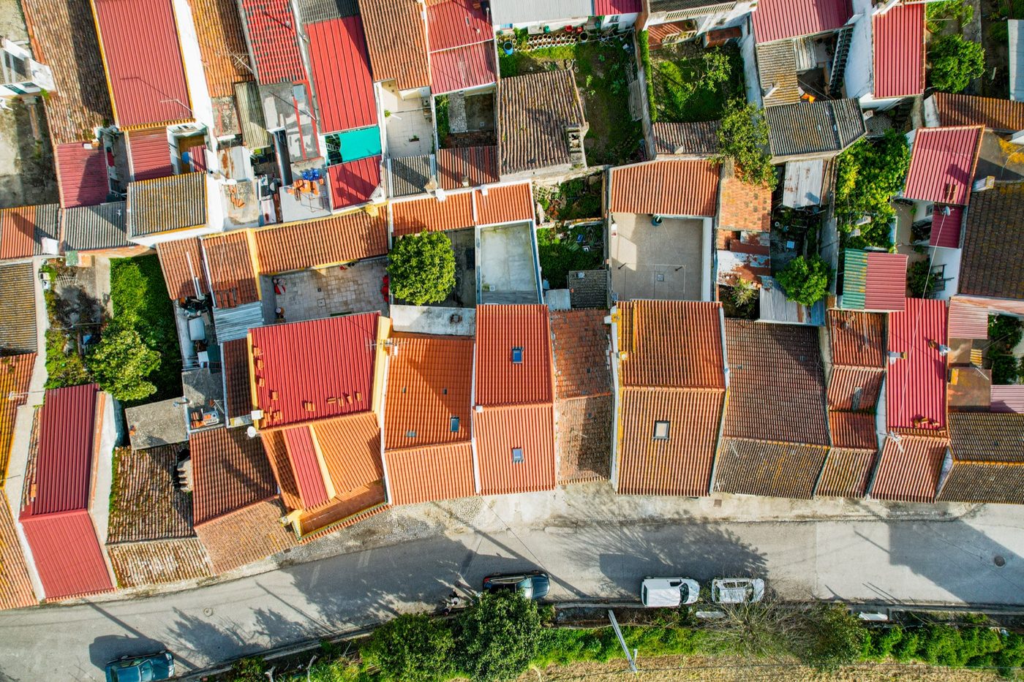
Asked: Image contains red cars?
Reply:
No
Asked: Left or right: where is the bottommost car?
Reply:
left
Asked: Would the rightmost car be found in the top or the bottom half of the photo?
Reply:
bottom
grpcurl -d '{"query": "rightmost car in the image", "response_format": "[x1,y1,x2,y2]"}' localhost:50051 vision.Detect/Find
[709,573,764,604]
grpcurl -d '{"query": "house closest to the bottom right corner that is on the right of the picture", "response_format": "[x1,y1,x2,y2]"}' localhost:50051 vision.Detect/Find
[933,410,1024,507]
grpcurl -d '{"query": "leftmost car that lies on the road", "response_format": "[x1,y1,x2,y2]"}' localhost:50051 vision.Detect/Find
[107,645,181,682]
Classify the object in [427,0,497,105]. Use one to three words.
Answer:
house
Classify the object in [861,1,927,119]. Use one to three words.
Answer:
house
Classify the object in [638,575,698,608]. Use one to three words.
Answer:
van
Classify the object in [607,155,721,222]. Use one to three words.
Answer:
building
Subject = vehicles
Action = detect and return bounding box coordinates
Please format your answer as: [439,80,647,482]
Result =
[107,645,181,682]
[482,569,551,603]
[638,575,698,608]
[709,573,764,604]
